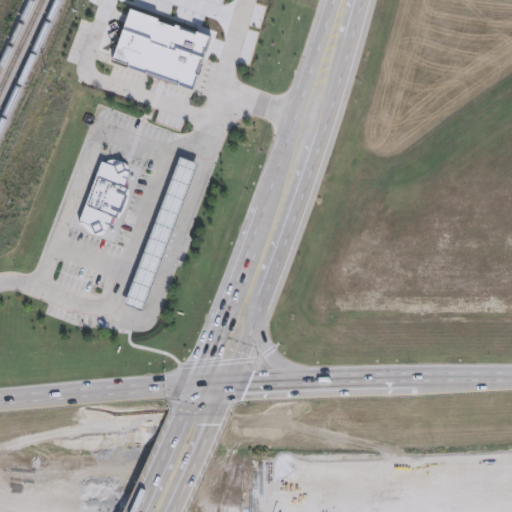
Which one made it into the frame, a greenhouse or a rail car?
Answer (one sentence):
There is a rail car in the scene.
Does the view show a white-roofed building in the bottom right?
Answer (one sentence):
No, looking in the bottom right, there is no white-roofed building.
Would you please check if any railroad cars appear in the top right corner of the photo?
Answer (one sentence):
No, there's no railroad car to be seen in the top right corner of the photo.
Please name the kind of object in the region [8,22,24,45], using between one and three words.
rail car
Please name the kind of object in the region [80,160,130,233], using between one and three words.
building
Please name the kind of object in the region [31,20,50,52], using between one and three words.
rail car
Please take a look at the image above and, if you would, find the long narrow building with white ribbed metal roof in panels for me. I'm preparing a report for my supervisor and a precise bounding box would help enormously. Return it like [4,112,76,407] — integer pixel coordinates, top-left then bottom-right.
[124,157,198,311]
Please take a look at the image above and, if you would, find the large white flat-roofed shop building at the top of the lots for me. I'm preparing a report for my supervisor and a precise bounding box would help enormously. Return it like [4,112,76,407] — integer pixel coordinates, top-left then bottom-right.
[112,9,212,88]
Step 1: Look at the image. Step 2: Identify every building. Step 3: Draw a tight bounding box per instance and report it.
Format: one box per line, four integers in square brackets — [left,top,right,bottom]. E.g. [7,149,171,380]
[80,160,130,233]
[112,9,212,88]
[124,157,198,311]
